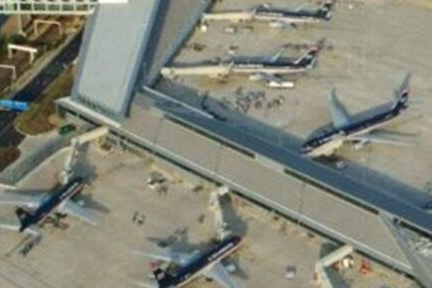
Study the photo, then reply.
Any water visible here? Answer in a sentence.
No, the picture contains no water.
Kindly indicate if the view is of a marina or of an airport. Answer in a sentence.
The area seen from above is an airport.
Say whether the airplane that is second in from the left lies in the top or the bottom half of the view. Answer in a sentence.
Seen from above, the airplane that is second in from the left lies in the bottom half of the view.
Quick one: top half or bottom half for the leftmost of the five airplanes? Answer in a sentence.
The leftmost of the five airplanes is in the bottom half of the image.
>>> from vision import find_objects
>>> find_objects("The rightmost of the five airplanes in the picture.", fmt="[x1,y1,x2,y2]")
[299,86,421,159]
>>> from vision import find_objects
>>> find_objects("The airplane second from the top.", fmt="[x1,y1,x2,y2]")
[209,41,314,92]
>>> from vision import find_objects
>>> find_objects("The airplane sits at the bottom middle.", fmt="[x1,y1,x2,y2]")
[130,233,242,288]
